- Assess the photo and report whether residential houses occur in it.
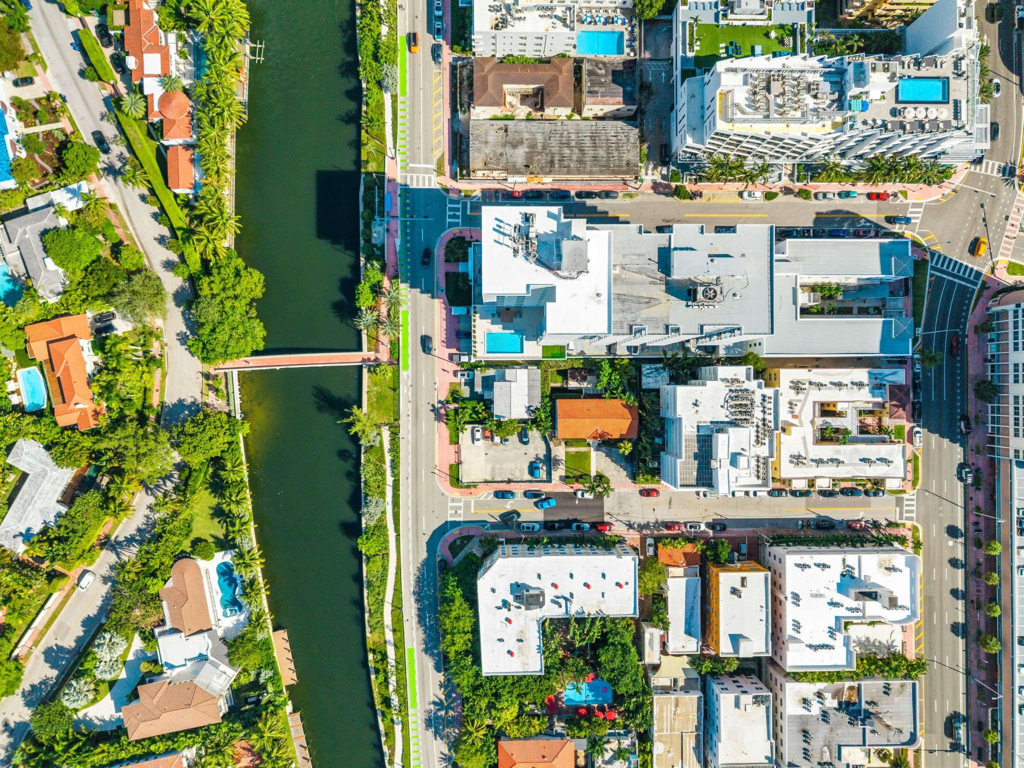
Yes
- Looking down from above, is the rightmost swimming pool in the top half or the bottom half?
top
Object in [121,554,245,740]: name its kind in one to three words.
house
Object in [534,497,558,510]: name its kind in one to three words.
vehicle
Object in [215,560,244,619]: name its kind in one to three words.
swimming pool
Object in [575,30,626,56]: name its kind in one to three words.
swimming pool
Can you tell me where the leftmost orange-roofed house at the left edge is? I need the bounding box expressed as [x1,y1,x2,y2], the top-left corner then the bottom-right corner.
[28,314,112,431]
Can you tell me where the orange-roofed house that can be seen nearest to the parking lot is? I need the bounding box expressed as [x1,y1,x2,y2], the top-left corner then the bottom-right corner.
[556,399,639,444]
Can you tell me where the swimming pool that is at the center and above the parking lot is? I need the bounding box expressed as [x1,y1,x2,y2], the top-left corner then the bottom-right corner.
[485,331,525,355]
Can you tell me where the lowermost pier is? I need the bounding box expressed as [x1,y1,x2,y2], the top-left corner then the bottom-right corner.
[288,707,313,768]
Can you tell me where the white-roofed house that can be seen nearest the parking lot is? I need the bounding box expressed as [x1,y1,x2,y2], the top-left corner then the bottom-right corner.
[474,367,541,419]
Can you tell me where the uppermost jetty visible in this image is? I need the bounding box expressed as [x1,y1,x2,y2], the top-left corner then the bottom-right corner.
[273,626,301,685]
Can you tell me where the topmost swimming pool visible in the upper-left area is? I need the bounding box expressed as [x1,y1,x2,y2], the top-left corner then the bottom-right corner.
[192,41,208,82]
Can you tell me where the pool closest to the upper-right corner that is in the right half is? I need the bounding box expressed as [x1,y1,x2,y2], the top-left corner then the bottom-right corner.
[897,78,950,103]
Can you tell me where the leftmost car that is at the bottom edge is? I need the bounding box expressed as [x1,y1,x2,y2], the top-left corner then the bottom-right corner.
[949,716,961,738]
